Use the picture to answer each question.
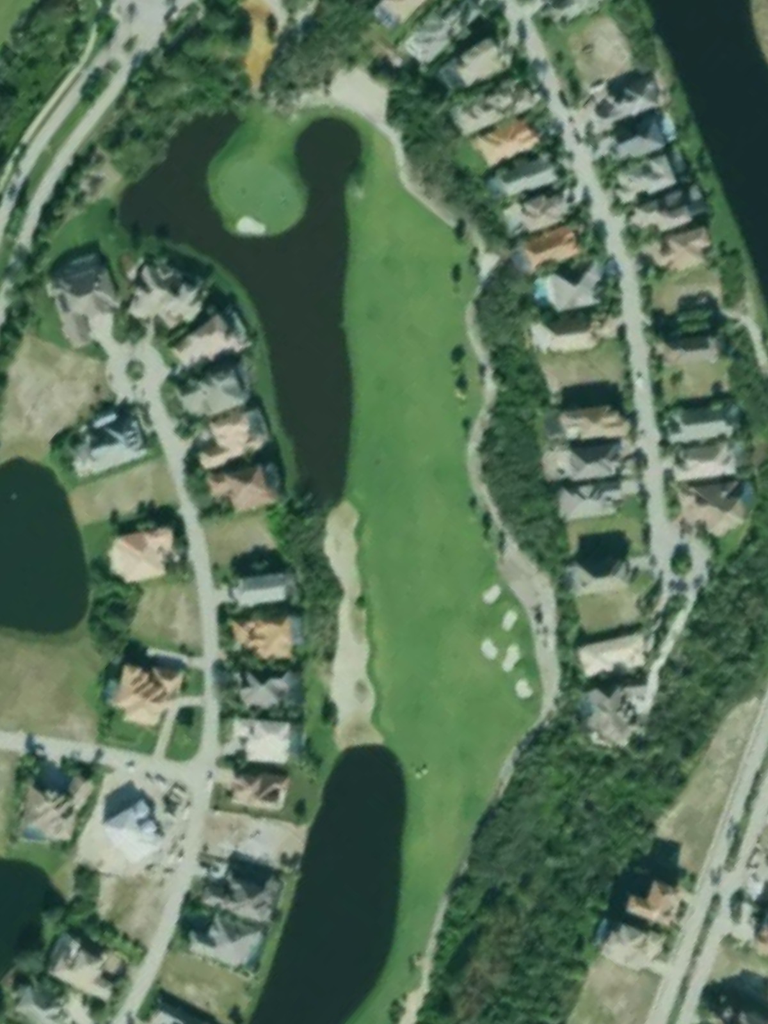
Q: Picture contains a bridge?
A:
No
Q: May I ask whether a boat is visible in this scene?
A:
No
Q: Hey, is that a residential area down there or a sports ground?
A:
residential area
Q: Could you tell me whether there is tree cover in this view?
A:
Yes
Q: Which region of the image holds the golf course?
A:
center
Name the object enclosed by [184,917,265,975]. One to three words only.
house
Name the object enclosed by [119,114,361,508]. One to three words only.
pond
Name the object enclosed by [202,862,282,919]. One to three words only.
house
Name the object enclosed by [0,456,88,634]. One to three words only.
pond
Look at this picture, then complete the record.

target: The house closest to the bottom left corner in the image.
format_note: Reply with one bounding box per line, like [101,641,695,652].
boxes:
[8,981,83,1024]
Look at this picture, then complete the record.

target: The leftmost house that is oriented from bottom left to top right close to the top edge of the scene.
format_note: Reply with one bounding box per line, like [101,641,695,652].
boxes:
[404,0,481,66]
